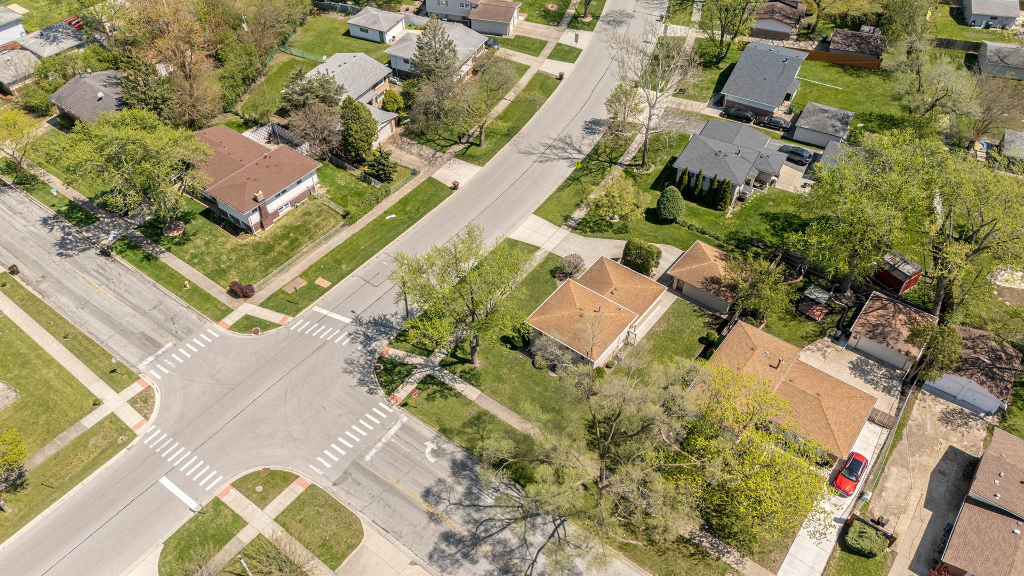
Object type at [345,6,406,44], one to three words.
building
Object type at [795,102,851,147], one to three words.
building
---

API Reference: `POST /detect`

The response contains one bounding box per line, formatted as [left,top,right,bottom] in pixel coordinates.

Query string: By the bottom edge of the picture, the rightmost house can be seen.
[938,423,1024,576]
